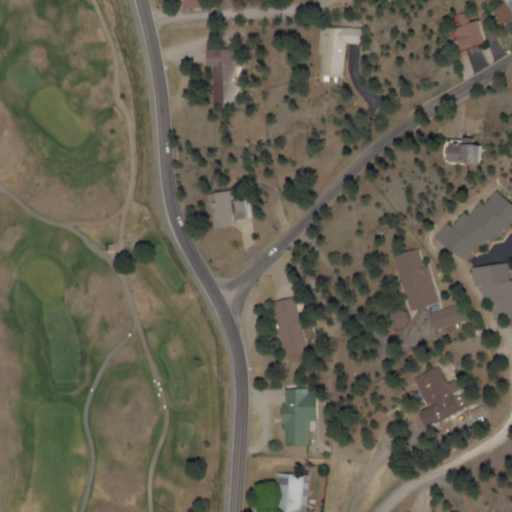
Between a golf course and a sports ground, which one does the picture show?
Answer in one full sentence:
The picture captures a golf course.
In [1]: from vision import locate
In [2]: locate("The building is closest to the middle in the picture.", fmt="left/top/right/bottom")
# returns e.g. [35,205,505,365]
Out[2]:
[212,191,252,227]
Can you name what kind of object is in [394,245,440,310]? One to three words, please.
house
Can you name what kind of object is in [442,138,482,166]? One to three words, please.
house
